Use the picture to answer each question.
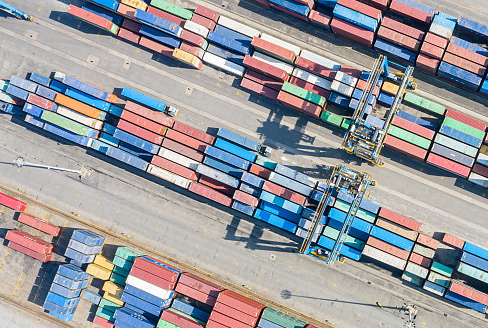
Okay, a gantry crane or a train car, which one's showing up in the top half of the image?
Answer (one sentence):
Visible in the top half of the image is a gantry crane.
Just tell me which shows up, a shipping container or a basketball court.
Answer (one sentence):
There is a shipping container in the scene.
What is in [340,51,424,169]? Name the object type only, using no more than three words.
container crane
